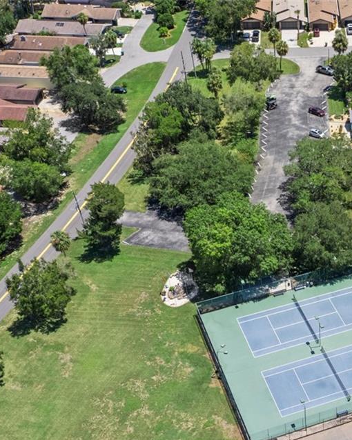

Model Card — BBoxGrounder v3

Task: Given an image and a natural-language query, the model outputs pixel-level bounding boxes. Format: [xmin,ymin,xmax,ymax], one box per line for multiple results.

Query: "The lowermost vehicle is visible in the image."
[308,126,326,139]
